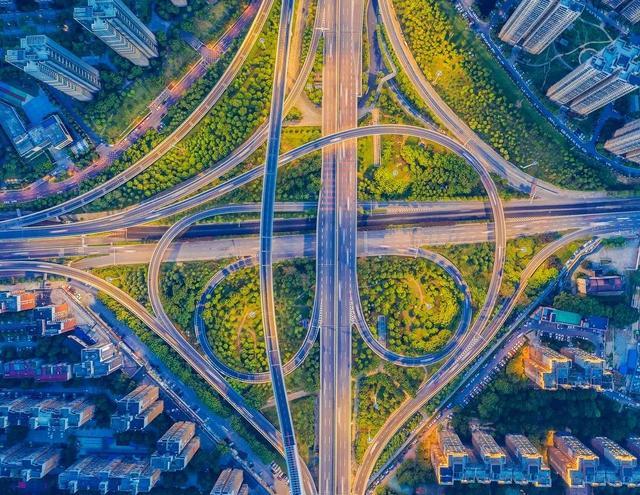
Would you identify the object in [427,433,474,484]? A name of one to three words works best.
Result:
building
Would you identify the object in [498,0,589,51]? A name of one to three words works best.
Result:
building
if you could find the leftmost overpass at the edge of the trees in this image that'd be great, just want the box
[259,0,302,495]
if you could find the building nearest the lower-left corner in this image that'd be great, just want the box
[0,445,60,482]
